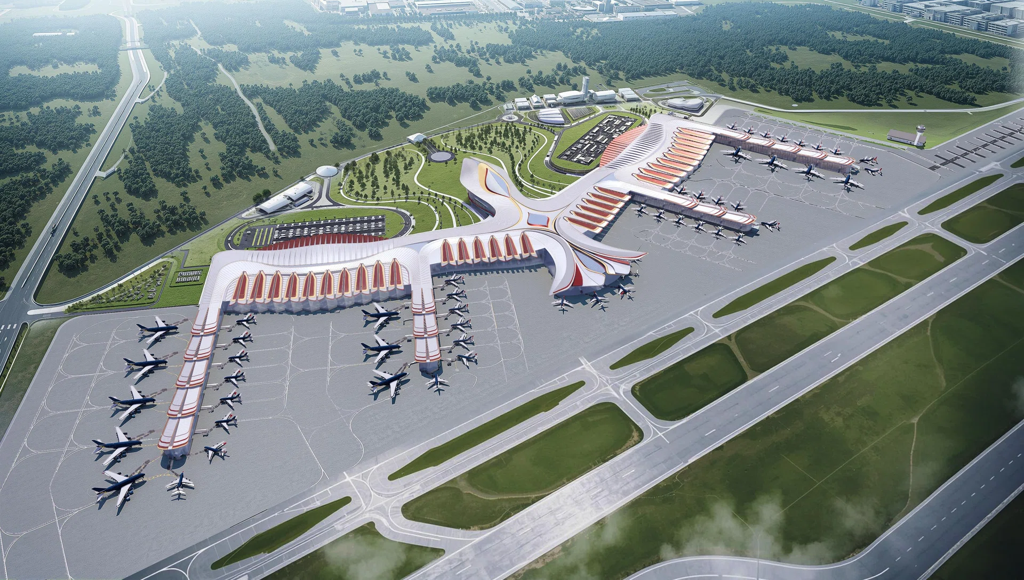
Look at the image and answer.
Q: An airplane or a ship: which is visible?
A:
airplane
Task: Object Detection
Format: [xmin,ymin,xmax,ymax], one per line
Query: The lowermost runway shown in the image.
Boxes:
[628,422,1024,580]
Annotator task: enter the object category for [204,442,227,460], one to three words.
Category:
airplane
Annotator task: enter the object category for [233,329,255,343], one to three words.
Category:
airplane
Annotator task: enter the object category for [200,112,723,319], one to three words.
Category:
building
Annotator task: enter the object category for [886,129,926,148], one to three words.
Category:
shed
